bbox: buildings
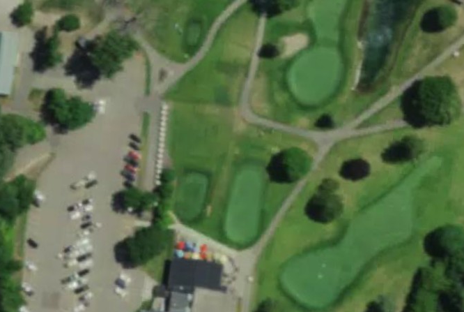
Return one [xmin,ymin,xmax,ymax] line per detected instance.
[0,31,17,96]
[146,260,236,312]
